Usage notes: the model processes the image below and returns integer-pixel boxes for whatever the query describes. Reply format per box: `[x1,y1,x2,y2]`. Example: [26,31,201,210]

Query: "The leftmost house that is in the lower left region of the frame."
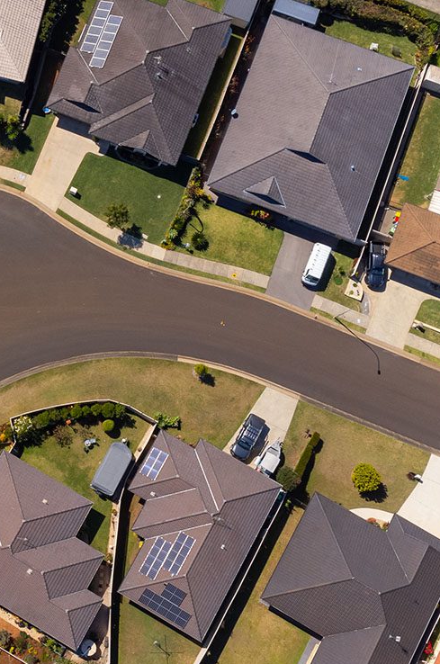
[0,450,106,650]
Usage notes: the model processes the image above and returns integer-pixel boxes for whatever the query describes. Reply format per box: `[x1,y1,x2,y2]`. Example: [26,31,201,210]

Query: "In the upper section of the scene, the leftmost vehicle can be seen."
[302,244,329,285]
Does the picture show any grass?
Yes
